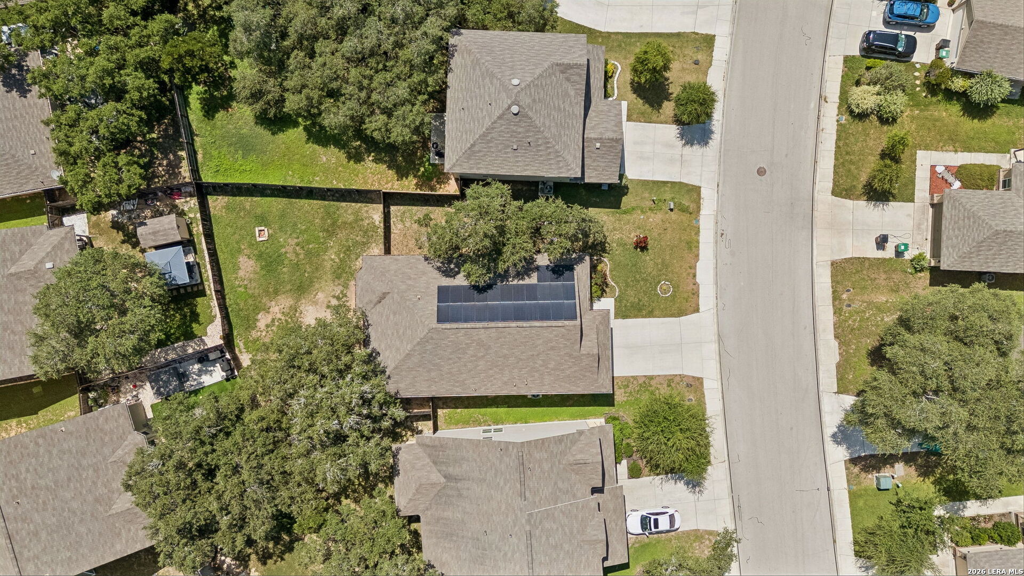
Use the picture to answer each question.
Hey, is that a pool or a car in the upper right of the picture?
car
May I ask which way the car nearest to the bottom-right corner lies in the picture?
from side to side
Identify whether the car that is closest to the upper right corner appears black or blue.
blue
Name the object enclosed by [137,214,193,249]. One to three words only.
shed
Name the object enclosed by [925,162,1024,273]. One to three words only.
house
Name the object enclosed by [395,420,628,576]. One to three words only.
house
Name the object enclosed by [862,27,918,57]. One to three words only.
car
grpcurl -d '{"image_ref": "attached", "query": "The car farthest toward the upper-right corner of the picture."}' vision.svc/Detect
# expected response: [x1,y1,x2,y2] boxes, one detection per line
[886,0,940,26]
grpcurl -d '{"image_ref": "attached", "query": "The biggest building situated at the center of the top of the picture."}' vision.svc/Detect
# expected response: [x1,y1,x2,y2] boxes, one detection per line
[443,28,624,187]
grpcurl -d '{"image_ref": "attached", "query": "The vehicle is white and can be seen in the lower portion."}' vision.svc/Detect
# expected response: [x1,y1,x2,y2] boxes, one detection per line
[625,506,680,536]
